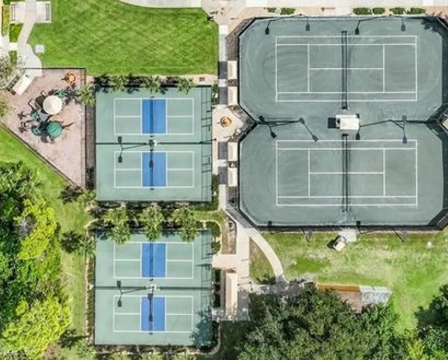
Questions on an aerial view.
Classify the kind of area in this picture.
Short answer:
sports ground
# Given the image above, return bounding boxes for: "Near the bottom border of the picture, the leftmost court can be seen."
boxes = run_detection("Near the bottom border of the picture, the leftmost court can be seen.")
[94,289,213,346]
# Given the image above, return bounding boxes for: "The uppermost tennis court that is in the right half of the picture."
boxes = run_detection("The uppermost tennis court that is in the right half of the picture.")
[240,18,448,122]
